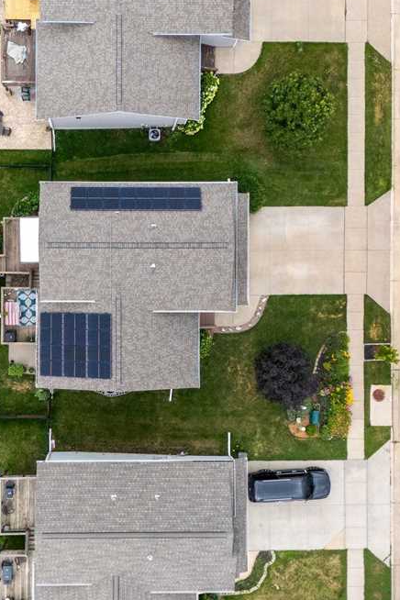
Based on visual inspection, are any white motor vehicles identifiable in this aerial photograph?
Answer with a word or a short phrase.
No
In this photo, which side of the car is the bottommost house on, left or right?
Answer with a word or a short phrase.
left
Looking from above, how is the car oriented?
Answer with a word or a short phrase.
from left to right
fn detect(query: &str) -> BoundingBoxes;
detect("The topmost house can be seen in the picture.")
[36,0,248,151]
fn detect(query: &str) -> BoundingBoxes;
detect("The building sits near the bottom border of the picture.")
[33,429,245,600]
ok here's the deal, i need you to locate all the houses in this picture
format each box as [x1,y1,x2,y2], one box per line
[37,177,249,402]
[36,0,248,151]
[33,429,245,600]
